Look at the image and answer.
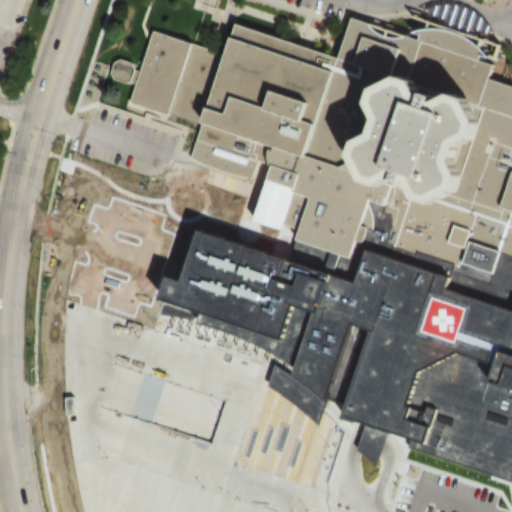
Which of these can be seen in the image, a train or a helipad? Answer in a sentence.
I can see a helipad in this picture.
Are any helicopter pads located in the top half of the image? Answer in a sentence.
No, no helicopter pad can be made out in the top half of the image.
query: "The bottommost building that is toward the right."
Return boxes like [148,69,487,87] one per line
[157,230,512,482]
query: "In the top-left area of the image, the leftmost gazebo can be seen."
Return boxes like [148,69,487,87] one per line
[115,59,140,84]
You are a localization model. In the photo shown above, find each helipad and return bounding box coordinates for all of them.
[417,293,494,350]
